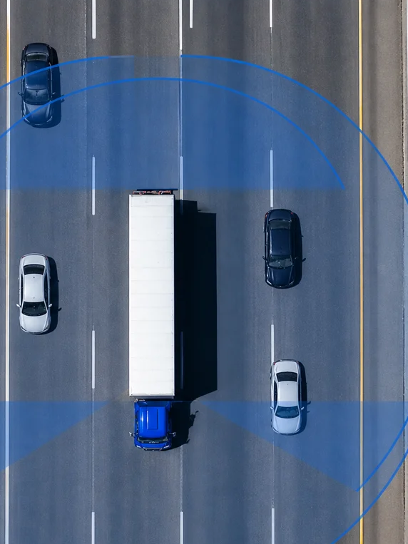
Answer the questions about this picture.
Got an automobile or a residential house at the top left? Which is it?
automobile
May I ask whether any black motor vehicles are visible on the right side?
Yes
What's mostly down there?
paved ground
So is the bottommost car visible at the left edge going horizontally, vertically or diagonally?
vertically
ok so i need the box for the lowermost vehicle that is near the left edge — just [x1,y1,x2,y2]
[16,253,52,334]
